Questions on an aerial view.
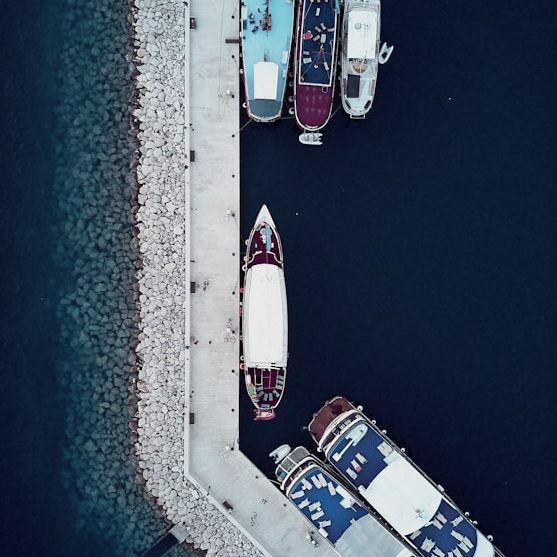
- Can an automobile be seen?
No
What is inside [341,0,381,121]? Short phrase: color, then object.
white boat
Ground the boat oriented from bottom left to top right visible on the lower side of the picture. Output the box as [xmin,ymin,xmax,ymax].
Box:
[268,443,291,463]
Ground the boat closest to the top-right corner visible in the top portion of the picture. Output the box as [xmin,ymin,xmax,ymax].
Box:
[380,41,394,64]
